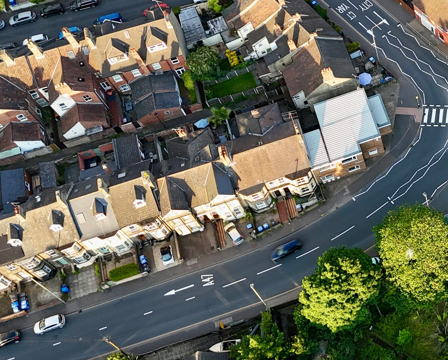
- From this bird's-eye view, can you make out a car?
Yes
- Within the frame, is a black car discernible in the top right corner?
No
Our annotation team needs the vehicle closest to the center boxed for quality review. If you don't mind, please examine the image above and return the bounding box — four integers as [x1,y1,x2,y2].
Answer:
[223,221,244,248]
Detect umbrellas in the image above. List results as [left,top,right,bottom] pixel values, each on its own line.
[359,72,374,87]
[193,117,209,131]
